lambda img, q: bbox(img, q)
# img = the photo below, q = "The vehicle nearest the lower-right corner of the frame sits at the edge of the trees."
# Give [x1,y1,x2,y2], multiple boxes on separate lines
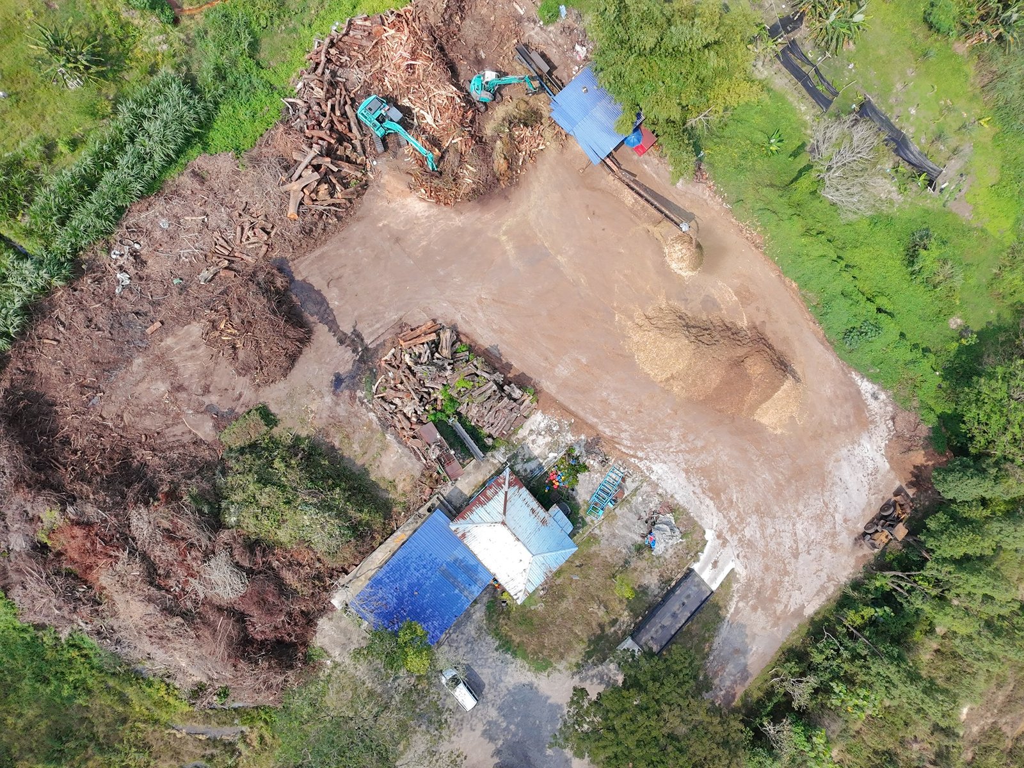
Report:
[853,486,919,558]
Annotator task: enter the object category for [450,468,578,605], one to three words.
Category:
house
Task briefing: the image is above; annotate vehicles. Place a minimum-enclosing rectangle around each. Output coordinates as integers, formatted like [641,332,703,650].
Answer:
[442,662,479,713]
[853,486,919,558]
[466,65,541,111]
[354,99,442,179]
